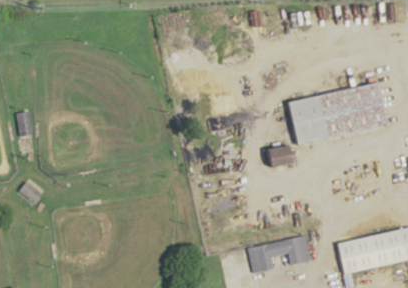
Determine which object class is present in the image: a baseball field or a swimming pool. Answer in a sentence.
Of the two, only a baseball field appears.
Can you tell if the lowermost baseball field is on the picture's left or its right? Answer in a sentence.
The lowermost baseball field appears in the left half of the scene.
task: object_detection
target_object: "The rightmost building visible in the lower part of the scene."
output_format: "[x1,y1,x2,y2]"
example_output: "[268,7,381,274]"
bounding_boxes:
[338,229,408,288]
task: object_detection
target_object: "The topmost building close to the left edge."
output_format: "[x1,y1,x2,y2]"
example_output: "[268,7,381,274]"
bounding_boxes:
[16,110,32,136]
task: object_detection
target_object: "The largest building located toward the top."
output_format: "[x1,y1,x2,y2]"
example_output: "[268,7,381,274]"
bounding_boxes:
[289,83,388,144]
